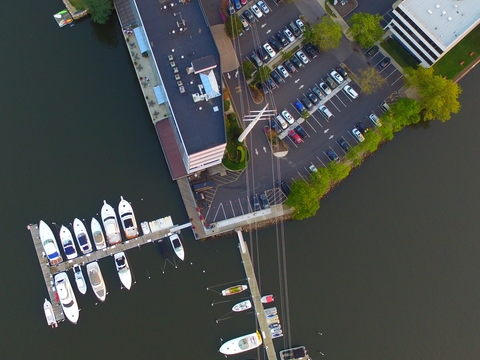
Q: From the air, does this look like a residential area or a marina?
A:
marina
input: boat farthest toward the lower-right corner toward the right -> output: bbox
[276,345,308,360]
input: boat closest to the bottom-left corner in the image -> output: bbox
[44,298,56,326]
